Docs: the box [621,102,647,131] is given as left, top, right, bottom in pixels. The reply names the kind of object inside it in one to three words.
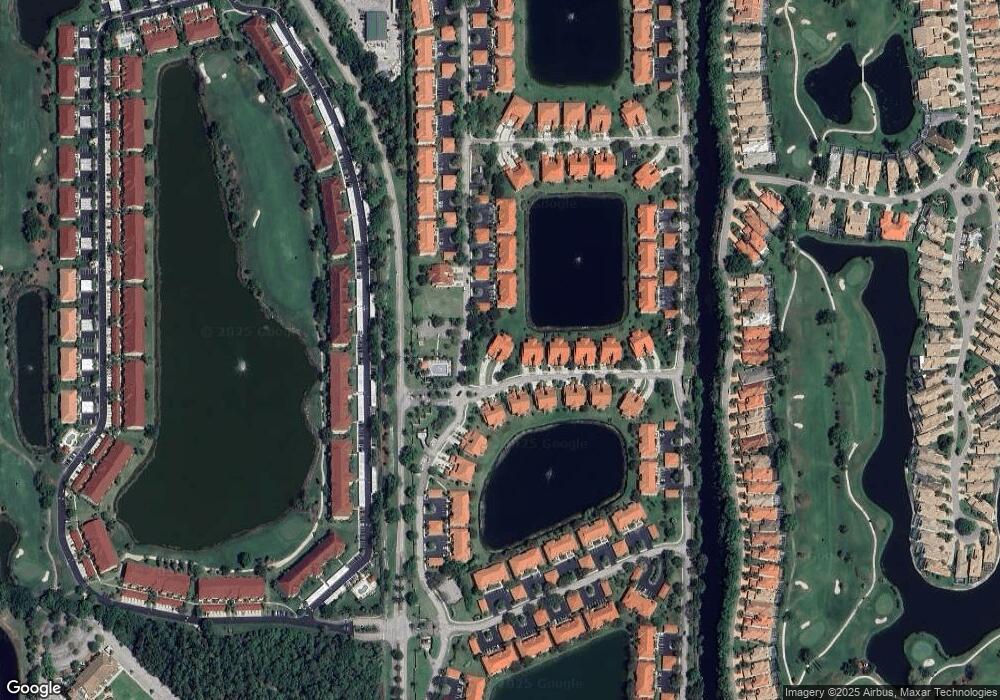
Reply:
house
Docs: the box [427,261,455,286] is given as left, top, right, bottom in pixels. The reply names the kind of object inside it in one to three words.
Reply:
building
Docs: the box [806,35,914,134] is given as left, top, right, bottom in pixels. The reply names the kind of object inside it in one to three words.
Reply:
pond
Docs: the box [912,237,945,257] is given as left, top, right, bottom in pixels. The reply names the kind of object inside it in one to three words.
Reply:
house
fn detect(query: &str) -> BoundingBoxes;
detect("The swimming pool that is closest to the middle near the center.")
[420,358,451,376]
